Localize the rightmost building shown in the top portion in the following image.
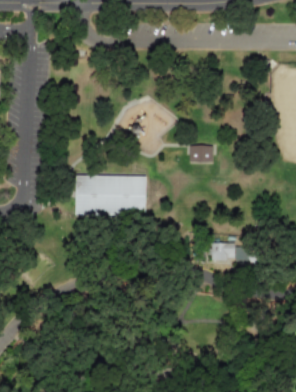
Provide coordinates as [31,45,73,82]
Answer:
[186,145,216,165]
